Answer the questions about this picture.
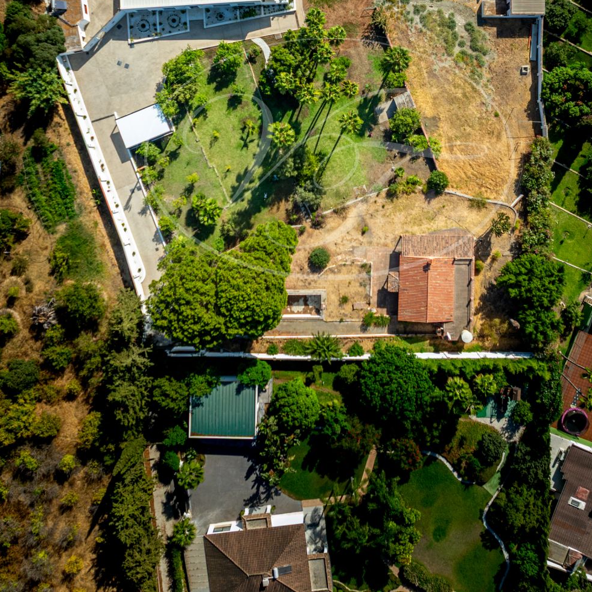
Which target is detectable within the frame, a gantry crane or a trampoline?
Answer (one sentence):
Visible in the photo is a trampoline.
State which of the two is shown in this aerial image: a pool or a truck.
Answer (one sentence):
This aerial view contains a pool.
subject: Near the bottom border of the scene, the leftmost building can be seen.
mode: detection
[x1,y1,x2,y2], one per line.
[182,498,335,592]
